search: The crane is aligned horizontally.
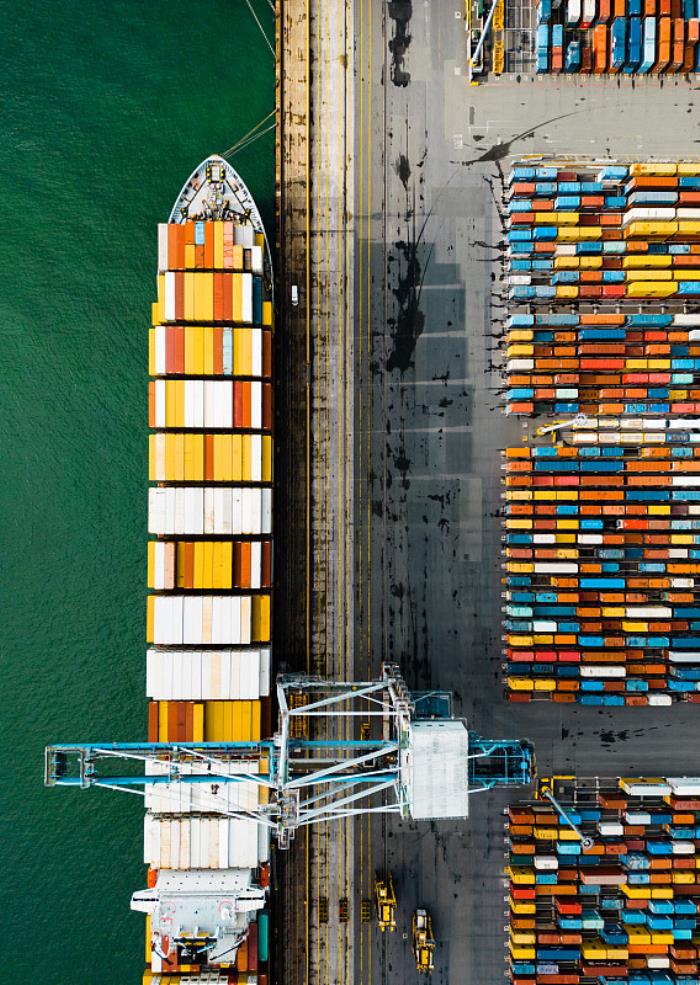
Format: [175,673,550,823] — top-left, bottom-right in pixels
[43,646,540,849]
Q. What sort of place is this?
port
